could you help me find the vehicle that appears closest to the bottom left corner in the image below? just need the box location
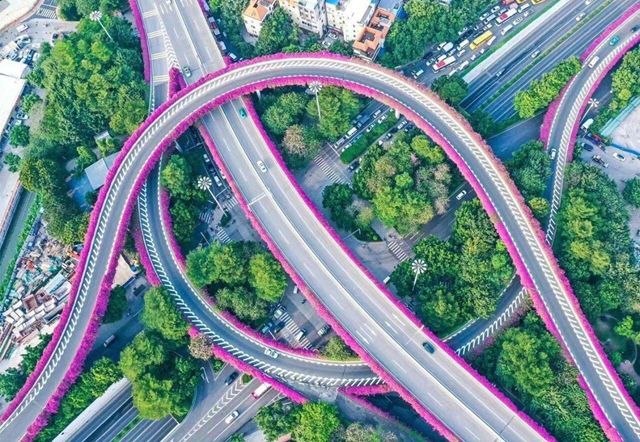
[101,331,119,348]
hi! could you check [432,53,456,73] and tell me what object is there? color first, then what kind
white bus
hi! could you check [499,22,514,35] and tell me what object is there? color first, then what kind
white vehicle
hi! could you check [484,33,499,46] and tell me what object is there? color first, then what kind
white vehicle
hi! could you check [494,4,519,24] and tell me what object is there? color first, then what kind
white bus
